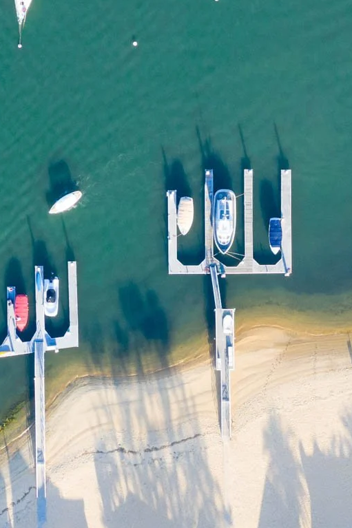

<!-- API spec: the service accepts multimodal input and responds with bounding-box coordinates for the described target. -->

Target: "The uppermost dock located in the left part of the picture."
[0,260,79,358]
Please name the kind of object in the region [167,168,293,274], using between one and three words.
pier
